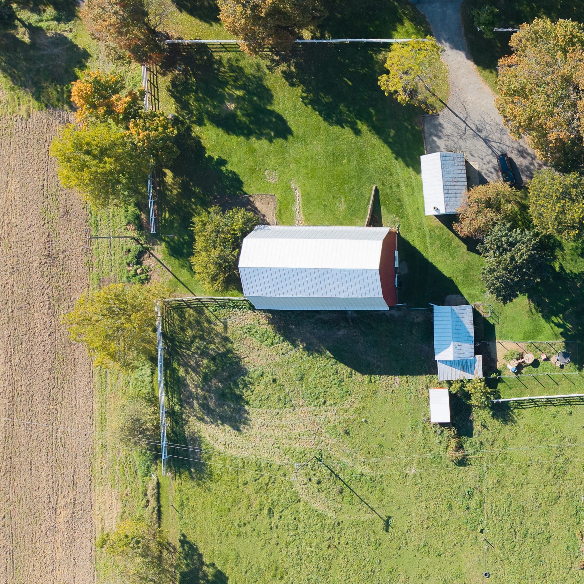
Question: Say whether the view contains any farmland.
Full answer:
Yes, some farmland is visible.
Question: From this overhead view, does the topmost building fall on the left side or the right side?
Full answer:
The topmost building is on the right side of the image.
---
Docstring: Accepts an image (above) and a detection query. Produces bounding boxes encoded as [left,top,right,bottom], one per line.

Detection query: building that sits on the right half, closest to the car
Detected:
[420,152,468,215]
